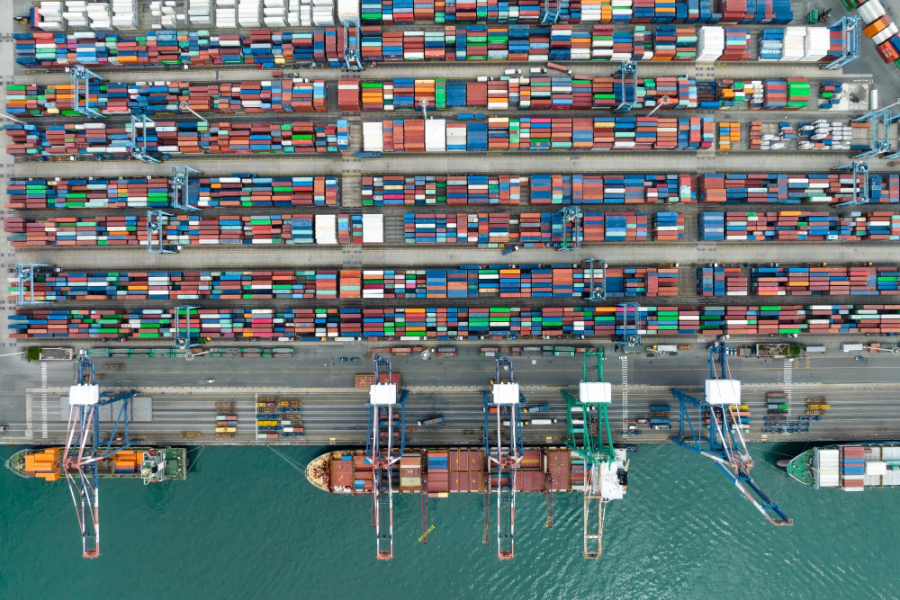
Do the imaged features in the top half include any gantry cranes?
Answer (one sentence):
Yes, there is a gantry crane in the top half.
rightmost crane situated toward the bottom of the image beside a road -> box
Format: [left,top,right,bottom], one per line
[666,349,791,524]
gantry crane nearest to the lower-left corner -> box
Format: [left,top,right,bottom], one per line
[59,351,152,560]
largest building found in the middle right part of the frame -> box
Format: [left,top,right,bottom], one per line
[753,343,789,357]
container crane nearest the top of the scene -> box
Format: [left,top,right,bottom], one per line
[533,0,564,25]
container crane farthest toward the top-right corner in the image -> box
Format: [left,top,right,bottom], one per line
[814,11,861,67]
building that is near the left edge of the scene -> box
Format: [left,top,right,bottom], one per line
[39,347,78,360]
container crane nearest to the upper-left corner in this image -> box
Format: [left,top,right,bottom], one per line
[69,63,117,116]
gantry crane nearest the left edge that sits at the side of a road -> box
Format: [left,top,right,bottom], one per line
[15,262,64,303]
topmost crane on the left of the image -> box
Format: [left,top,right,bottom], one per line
[340,12,371,69]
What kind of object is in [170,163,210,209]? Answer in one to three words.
container crane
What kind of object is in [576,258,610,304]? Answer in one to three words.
container crane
